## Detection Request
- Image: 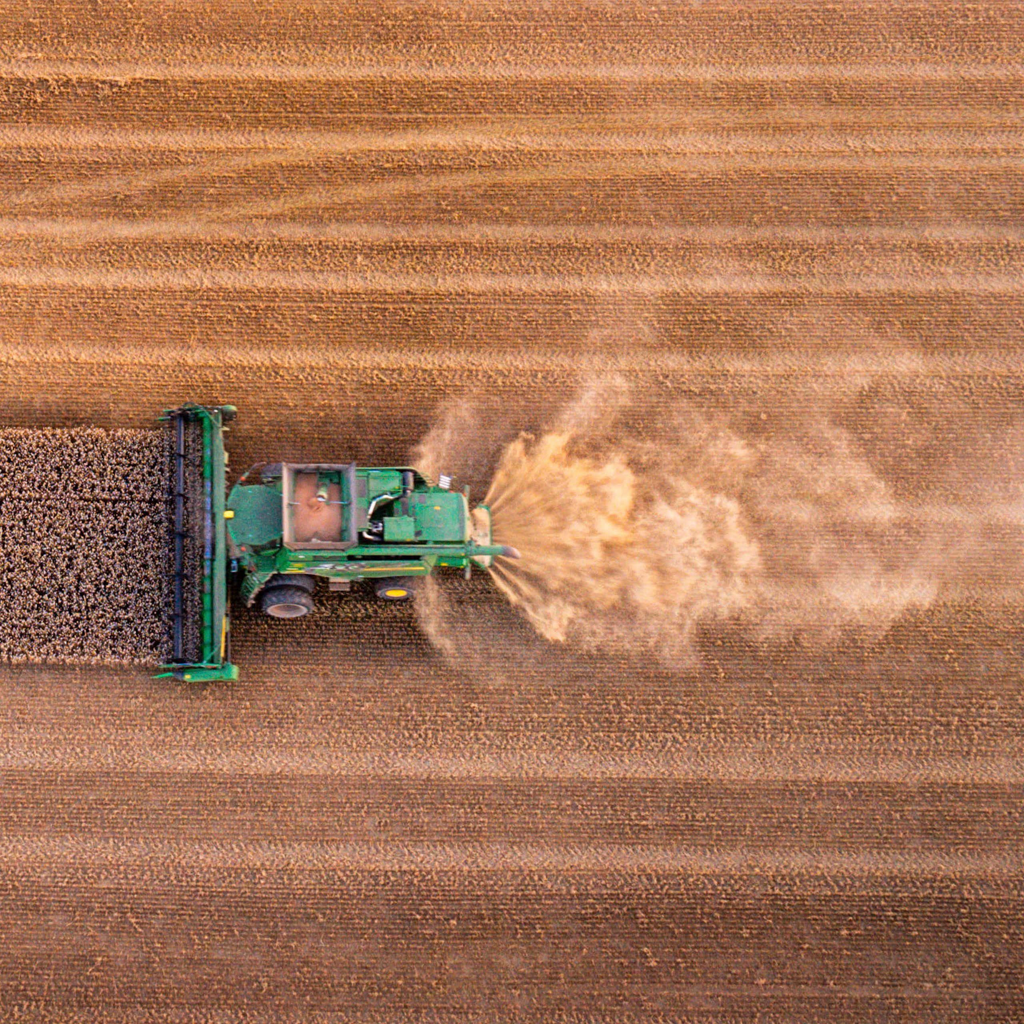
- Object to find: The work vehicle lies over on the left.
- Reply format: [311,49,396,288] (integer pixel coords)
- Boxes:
[152,402,521,685]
